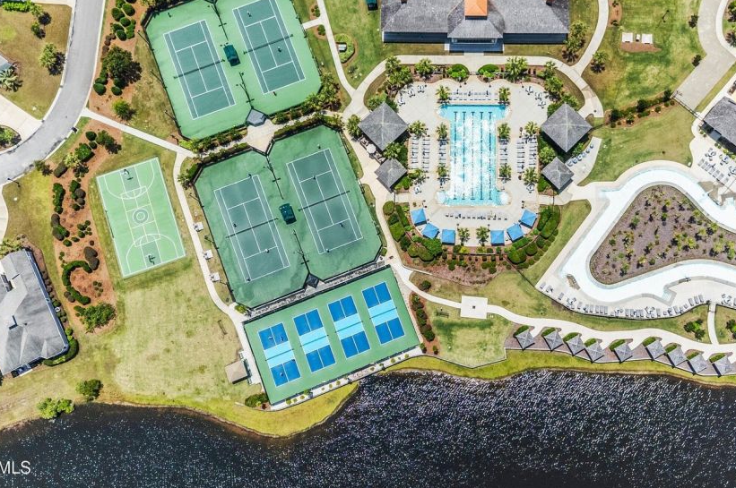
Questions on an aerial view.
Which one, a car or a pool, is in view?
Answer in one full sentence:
Looking from above, you can make out a pool.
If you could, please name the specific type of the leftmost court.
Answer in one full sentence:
It looks like the leftmost court is a basketball court.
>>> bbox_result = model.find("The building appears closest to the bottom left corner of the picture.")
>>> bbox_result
[0,248,70,378]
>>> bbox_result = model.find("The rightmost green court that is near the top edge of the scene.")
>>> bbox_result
[214,0,319,112]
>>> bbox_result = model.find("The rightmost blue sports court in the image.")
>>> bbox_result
[362,282,404,344]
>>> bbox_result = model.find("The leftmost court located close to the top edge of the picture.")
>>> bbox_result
[145,0,253,136]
